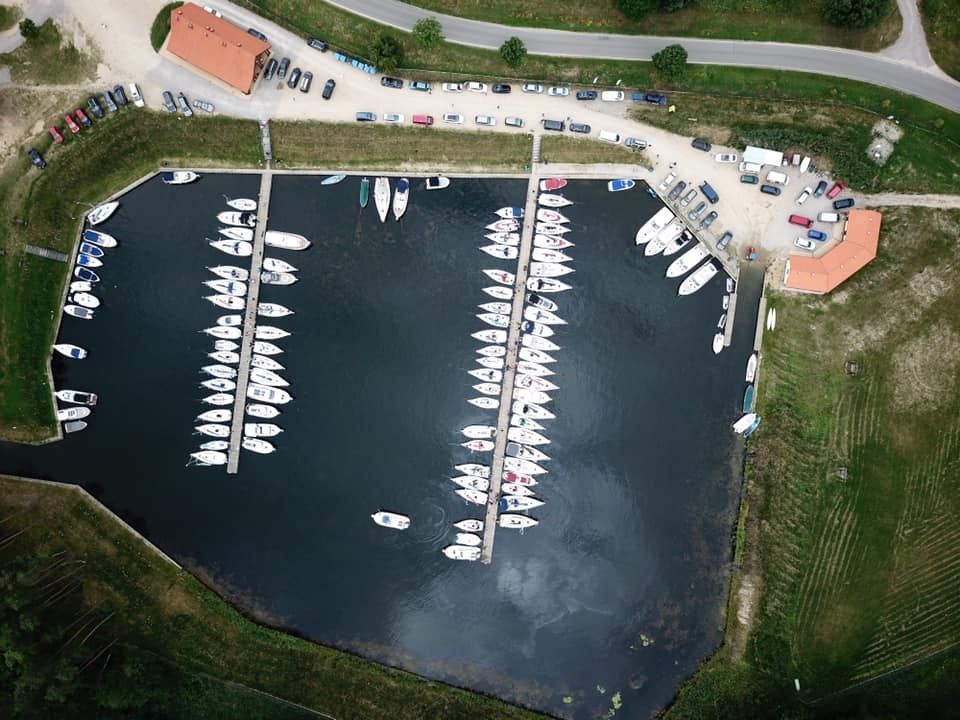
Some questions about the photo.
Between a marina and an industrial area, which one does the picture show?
marina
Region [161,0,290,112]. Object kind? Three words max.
building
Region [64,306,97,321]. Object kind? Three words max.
boat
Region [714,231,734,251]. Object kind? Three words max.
car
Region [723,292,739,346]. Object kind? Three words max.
pier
